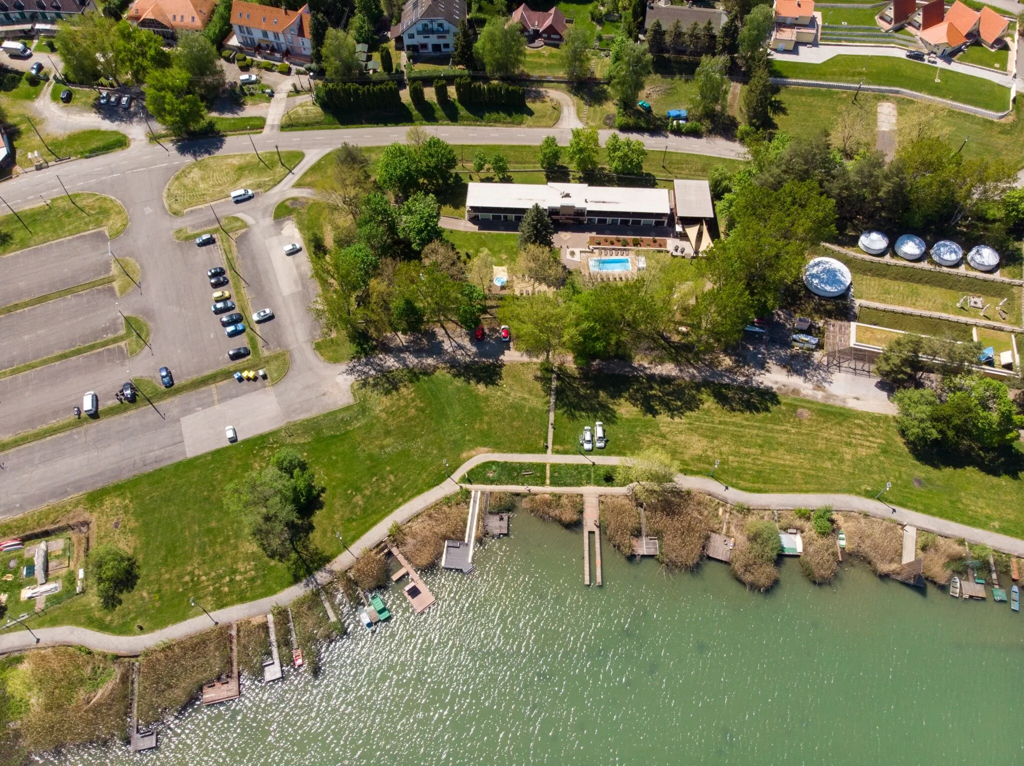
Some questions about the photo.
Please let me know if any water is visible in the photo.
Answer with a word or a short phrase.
Yes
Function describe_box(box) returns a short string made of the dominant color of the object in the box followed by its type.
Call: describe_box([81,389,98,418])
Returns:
white vehicle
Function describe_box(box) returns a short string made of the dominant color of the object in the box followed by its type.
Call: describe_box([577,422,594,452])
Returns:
white car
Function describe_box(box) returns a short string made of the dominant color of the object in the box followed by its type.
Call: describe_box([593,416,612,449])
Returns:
white vehicle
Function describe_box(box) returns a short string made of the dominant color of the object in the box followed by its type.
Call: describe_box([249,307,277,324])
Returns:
white car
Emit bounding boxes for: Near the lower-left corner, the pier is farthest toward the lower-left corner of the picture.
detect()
[131,663,157,752]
